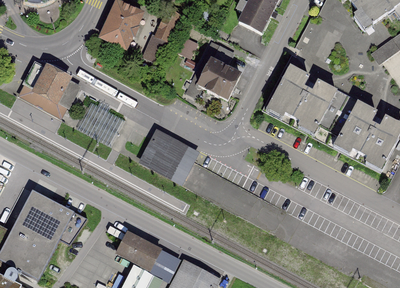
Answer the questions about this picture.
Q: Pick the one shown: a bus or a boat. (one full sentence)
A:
Looking from above, you can make out a bus.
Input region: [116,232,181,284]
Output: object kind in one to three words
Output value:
building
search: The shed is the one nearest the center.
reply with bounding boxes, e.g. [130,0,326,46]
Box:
[140,129,199,186]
